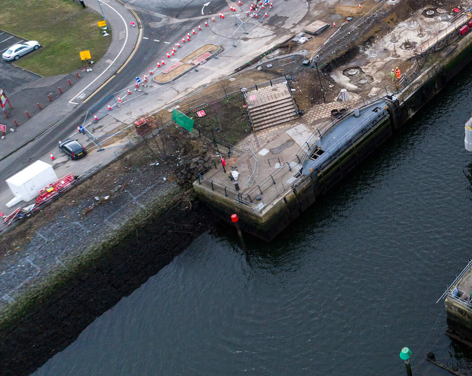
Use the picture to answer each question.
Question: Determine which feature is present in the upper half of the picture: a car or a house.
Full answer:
Visible in the upper half of the picture is a car.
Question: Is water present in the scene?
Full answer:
Yes, water can be seen from above here.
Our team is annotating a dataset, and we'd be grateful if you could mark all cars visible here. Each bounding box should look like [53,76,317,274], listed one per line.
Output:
[1,42,41,60]
[58,140,90,164]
